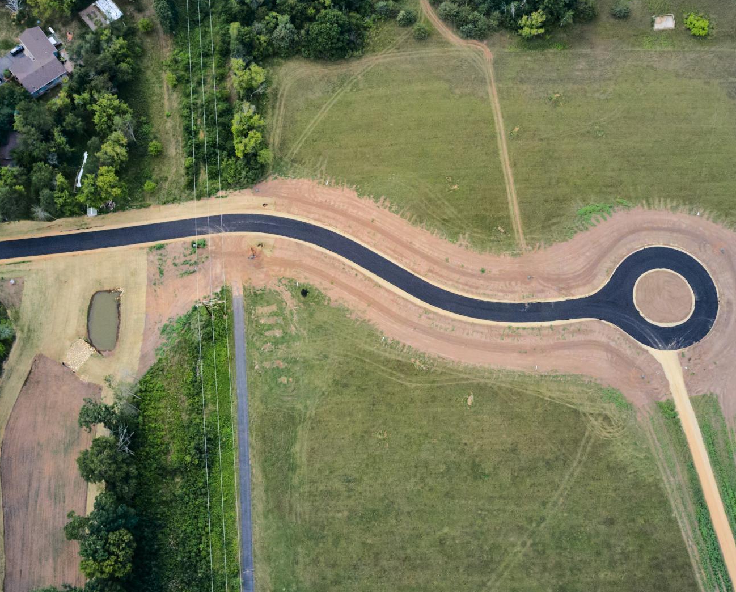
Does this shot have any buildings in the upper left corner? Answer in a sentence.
Yes, you'll find a building in the upper left corner.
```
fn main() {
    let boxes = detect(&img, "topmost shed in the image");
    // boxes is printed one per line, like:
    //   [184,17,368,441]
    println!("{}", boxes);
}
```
[96,0,126,25]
